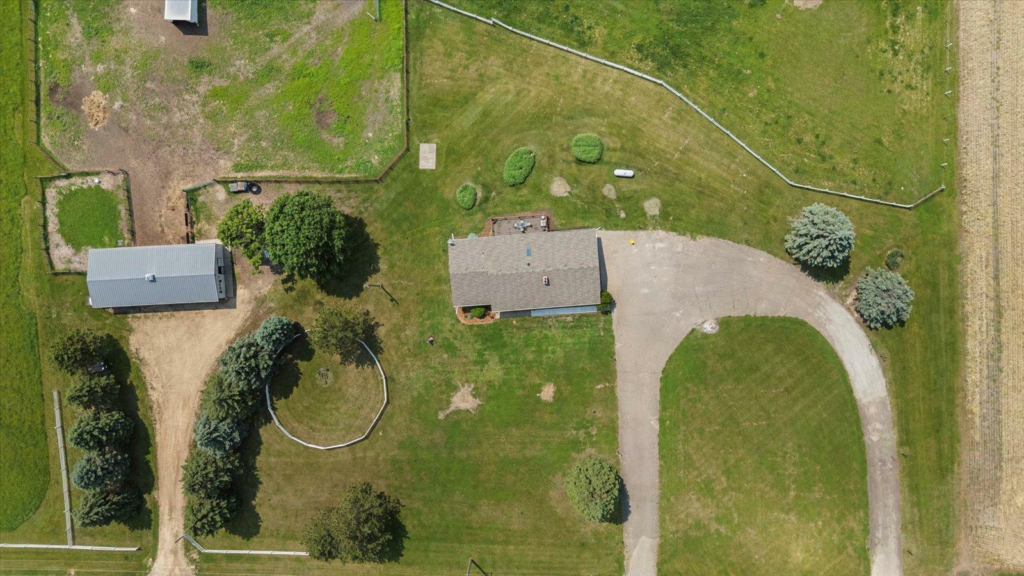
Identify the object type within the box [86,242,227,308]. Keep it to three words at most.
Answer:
barn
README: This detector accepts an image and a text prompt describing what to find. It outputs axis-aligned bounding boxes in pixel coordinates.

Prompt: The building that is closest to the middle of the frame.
[447,227,602,314]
